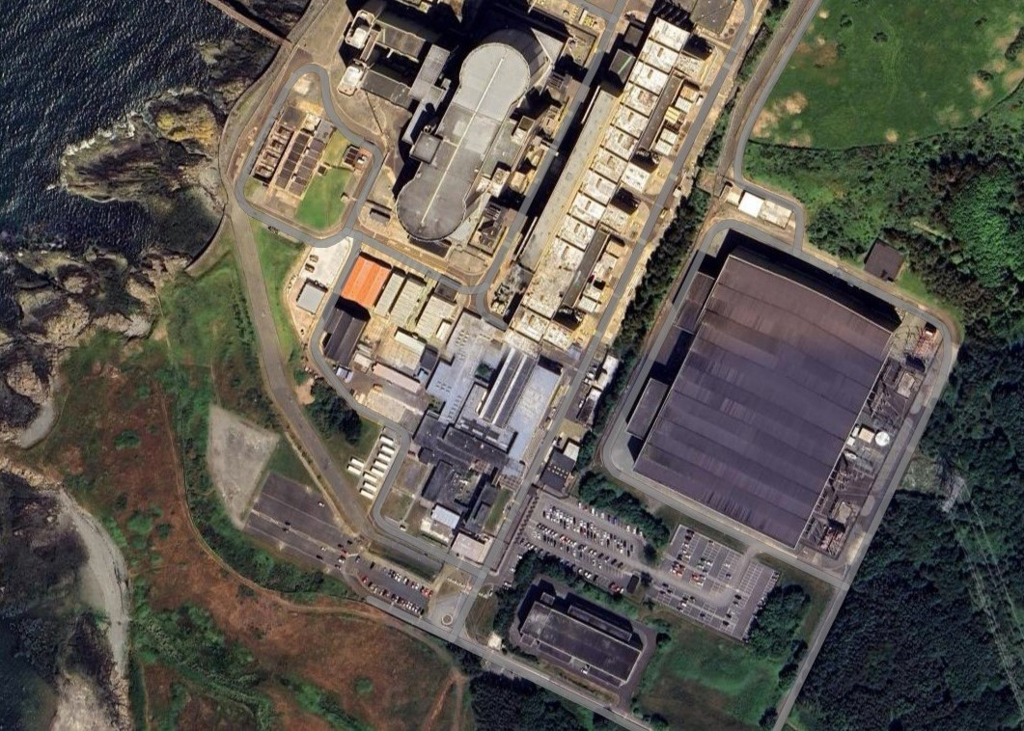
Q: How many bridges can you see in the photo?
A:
zero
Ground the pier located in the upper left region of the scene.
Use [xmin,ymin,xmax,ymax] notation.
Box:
[195,0,294,47]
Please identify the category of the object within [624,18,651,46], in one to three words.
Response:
house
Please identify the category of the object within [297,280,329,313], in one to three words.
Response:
shed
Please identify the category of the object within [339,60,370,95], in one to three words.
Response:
house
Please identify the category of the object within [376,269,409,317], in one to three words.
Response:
building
